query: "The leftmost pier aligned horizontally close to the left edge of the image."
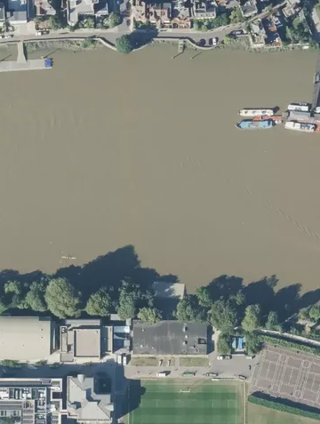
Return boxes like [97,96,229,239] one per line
[0,59,52,73]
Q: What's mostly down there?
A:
water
